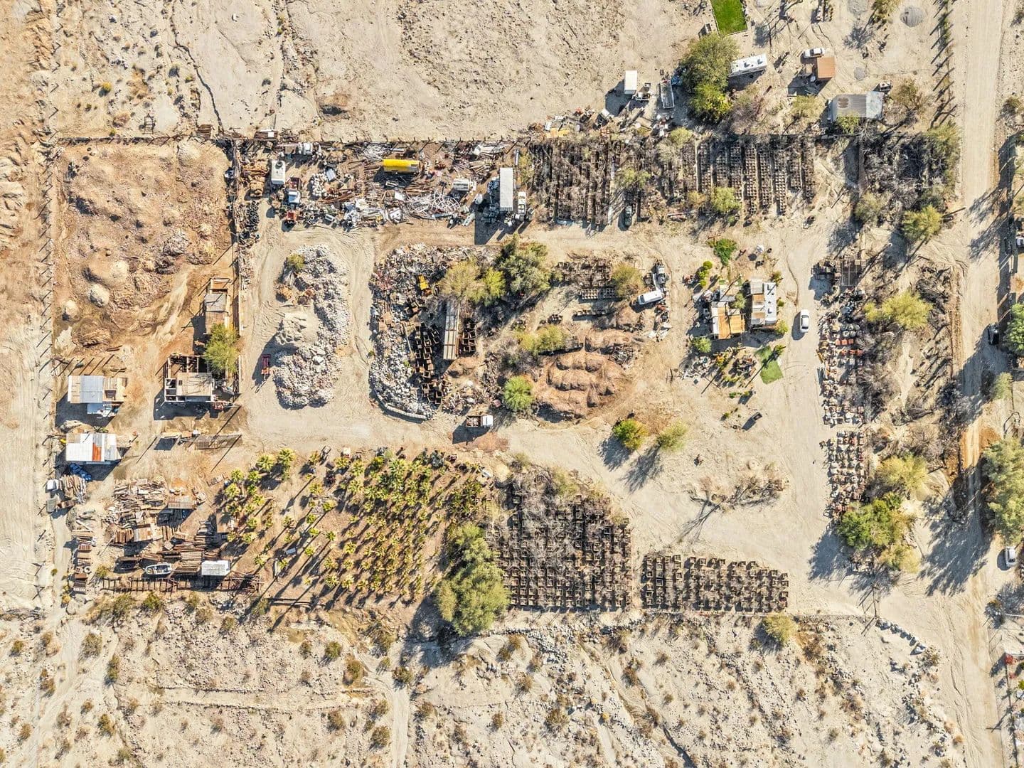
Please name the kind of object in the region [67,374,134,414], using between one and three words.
shed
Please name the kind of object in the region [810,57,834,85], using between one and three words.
building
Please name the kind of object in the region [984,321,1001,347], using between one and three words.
car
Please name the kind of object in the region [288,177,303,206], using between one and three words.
vehicle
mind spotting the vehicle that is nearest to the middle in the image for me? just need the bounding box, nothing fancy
[466,415,494,427]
